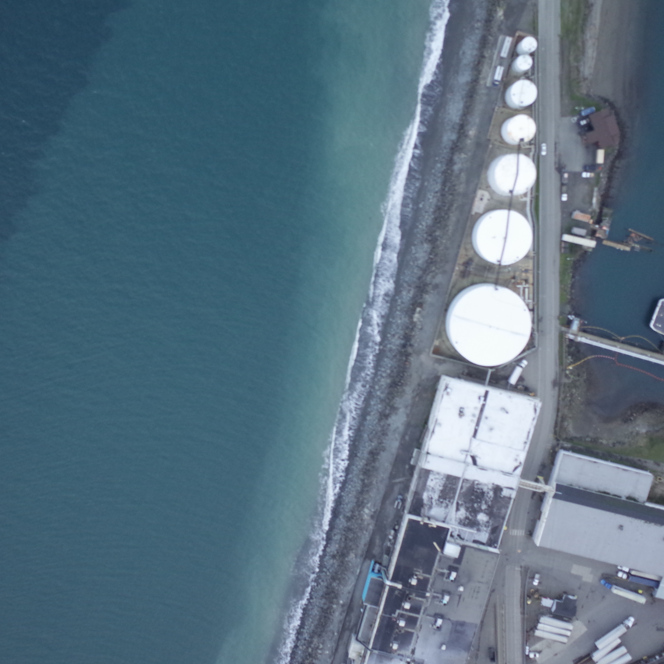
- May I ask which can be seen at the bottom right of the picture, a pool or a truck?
truck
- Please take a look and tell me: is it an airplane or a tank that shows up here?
tank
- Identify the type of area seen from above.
port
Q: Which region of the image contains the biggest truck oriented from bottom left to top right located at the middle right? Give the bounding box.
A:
[508,355,531,384]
